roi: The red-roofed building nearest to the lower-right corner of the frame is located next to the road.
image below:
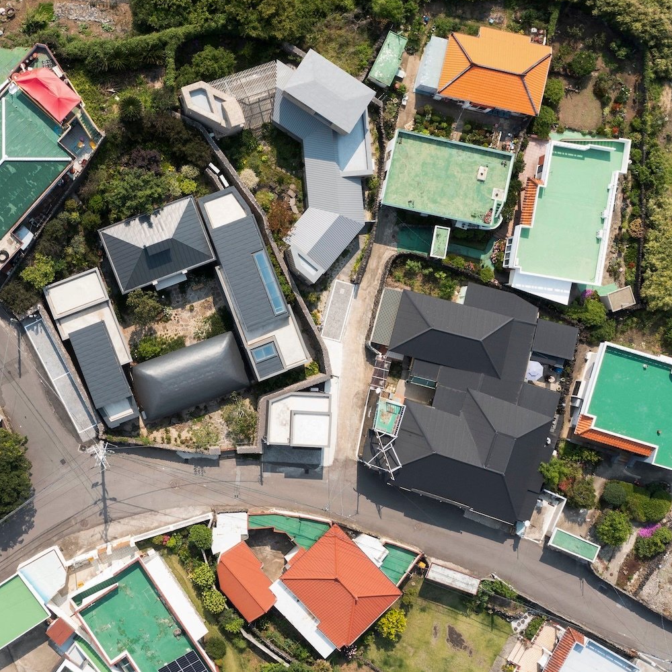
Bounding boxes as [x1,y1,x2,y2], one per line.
[531,621,581,672]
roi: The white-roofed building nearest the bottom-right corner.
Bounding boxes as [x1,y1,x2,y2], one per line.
[563,635,640,672]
